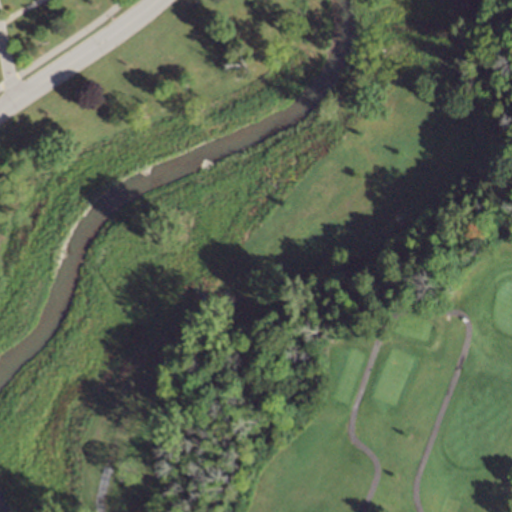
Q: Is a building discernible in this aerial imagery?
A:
No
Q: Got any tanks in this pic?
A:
No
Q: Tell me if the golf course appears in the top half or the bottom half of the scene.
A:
bottom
